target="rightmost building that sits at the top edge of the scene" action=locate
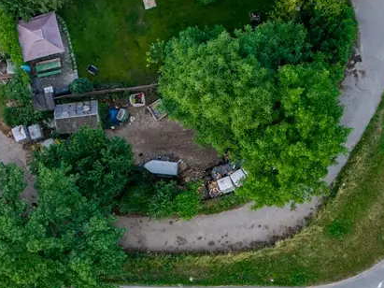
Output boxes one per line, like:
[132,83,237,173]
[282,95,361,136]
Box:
[19,14,81,72]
